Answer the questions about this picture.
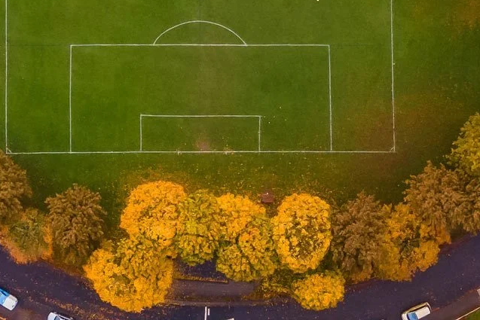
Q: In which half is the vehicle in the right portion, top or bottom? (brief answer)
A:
bottom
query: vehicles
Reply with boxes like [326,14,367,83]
[0,286,20,313]
[397,298,433,320]
[45,308,72,320]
